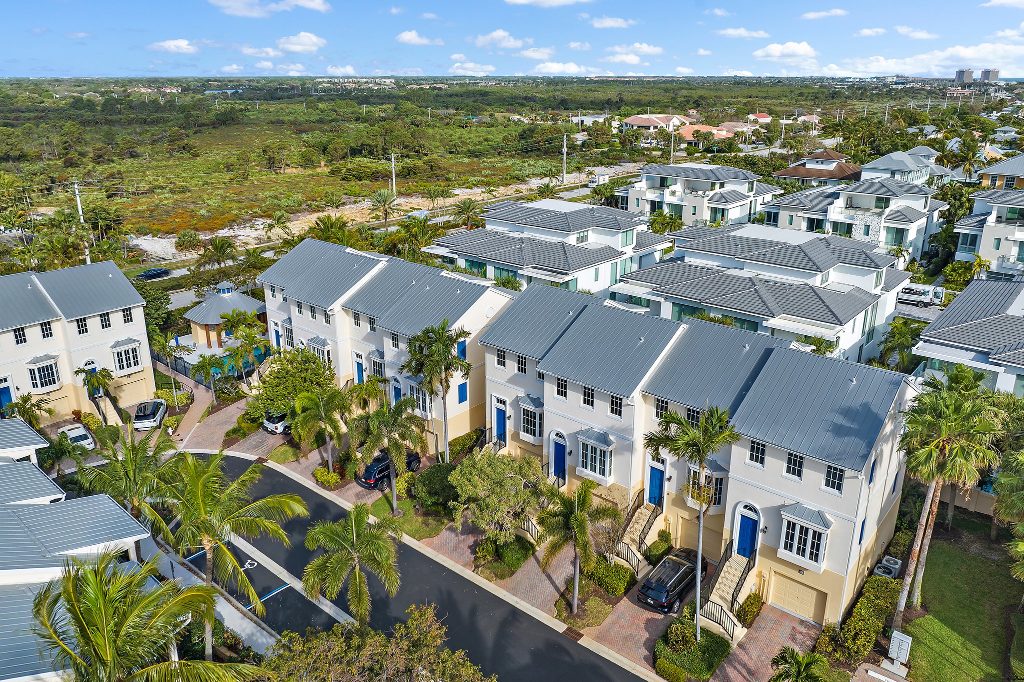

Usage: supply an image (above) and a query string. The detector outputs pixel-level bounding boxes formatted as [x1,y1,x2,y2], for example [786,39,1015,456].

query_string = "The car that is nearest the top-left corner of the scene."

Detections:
[134,265,174,278]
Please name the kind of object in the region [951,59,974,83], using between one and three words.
building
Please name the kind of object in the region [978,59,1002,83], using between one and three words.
building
